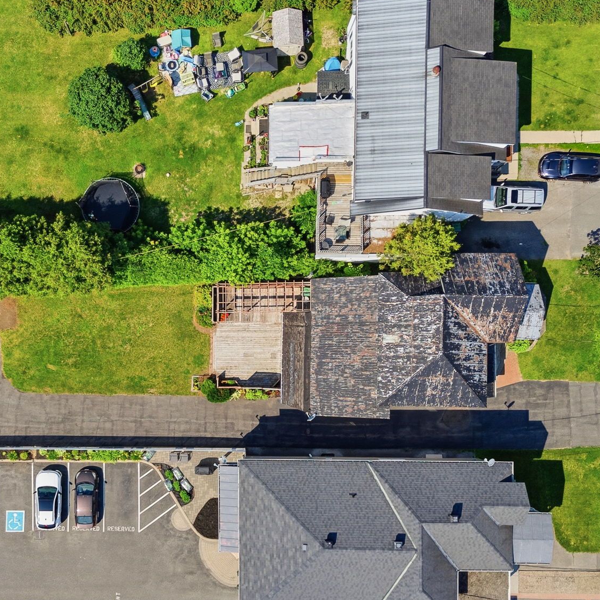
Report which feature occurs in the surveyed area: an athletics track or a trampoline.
trampoline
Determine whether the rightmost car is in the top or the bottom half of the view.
top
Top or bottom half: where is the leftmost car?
bottom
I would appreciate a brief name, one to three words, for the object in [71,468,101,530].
car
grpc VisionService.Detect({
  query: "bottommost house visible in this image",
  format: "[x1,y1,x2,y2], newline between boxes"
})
[219,453,554,600]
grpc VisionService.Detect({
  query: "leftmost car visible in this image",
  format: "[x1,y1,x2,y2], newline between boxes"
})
[32,468,62,529]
